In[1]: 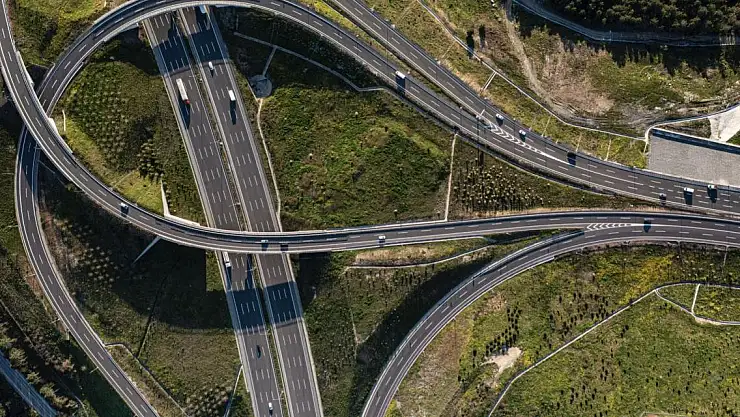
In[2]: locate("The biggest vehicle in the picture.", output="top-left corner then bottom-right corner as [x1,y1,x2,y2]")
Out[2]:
[176,76,189,103]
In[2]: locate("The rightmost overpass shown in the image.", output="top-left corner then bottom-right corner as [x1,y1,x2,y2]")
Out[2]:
[184,221,325,259]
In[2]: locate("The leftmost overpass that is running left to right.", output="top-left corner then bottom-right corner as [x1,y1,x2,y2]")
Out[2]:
[134,0,230,28]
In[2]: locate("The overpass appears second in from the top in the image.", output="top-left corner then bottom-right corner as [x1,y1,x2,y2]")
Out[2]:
[13,85,64,145]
